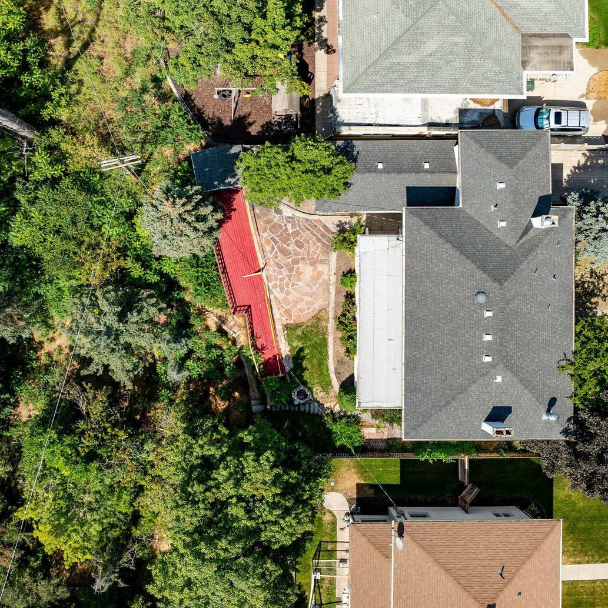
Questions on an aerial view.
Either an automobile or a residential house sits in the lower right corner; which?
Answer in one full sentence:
Visible in the lower right corner is a residential house.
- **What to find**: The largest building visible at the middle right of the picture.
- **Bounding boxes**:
[352,128,577,442]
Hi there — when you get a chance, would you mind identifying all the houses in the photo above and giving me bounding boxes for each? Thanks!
[347,506,564,608]
[352,128,577,442]
[334,0,591,100]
